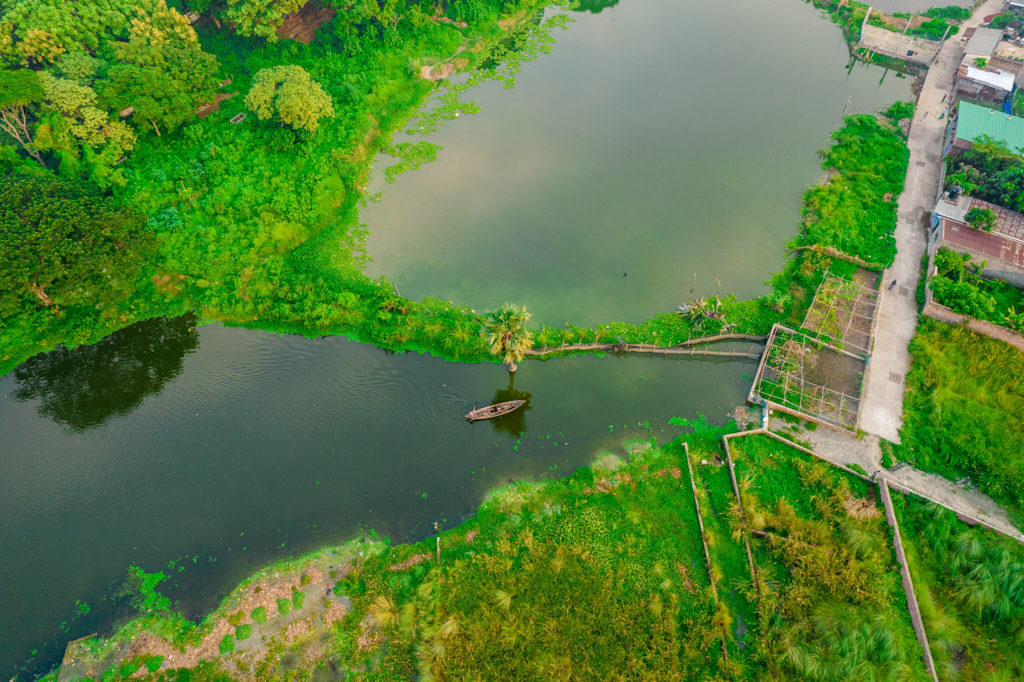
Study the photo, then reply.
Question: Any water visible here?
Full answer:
Yes, there's water in this view.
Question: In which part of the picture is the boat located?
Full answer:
The boat is located in the center region of the scene.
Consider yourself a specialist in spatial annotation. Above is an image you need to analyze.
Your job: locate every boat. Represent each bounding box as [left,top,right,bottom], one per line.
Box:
[464,397,526,417]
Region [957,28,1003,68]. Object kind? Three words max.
shed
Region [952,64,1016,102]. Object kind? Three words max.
shed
